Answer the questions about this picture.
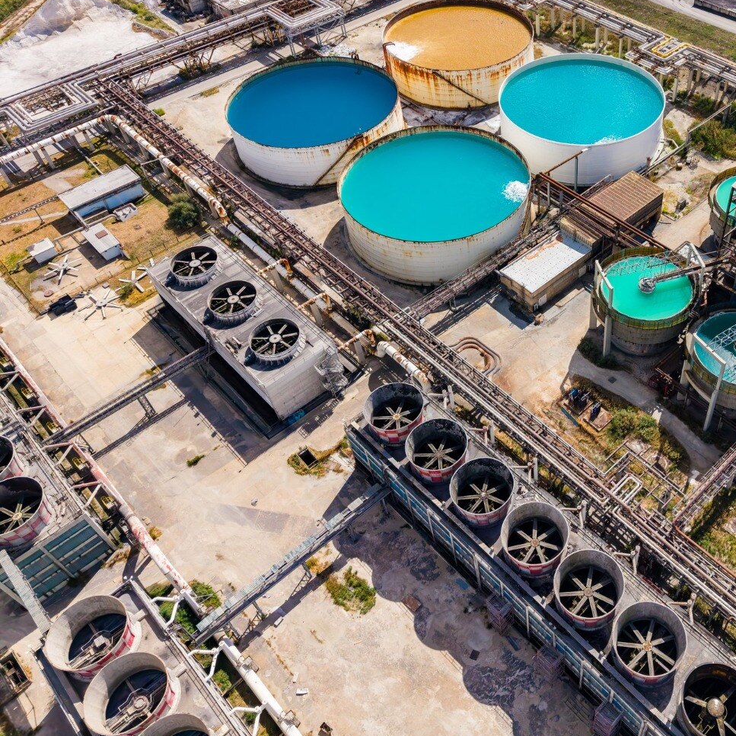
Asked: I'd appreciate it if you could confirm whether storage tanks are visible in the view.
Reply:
Yes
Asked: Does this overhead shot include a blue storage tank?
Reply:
Yes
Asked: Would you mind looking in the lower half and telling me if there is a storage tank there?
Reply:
No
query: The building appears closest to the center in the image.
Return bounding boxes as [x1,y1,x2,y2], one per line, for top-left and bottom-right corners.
[497,230,594,313]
